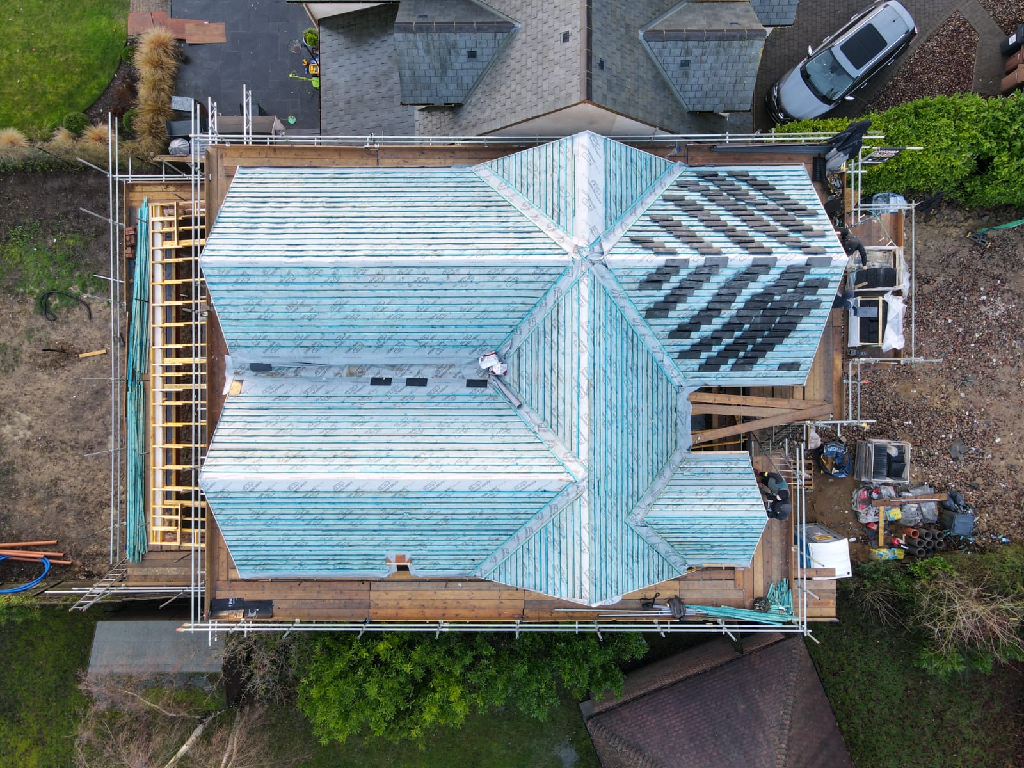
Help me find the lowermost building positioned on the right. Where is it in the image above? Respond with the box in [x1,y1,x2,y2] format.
[584,624,857,768]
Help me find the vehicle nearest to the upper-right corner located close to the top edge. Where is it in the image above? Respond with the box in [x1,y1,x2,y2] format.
[759,0,921,131]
